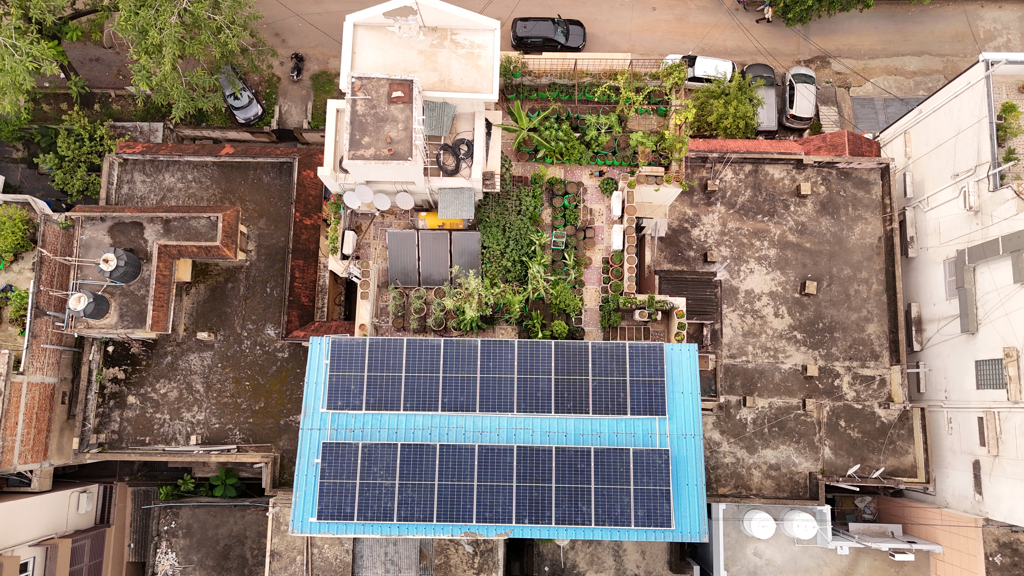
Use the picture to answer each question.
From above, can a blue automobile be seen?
No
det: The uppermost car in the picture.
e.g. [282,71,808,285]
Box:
[511,15,586,54]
